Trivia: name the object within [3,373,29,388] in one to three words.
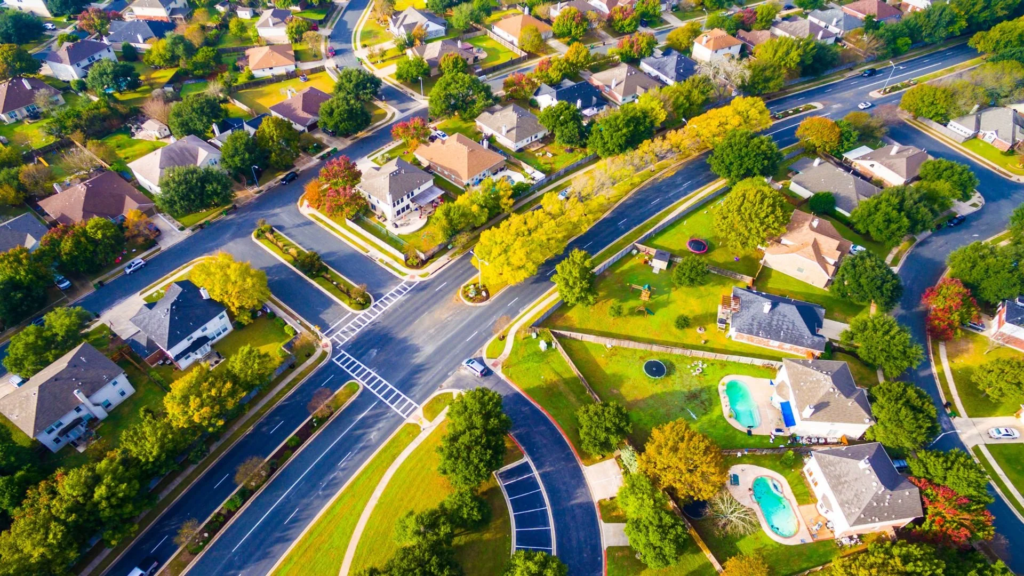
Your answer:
car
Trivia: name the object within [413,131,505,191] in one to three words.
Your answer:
house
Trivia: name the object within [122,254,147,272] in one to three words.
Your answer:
car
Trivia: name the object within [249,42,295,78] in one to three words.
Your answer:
house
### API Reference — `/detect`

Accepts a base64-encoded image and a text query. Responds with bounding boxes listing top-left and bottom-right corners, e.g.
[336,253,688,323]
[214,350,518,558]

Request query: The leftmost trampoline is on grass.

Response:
[643,358,666,378]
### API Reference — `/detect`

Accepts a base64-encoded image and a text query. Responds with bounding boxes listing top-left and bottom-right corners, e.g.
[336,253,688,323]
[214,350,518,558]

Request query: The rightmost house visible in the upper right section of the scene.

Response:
[948,106,1024,154]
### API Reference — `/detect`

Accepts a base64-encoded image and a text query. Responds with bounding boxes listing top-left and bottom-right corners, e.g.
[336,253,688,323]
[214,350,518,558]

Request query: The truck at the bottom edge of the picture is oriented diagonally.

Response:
[124,550,158,576]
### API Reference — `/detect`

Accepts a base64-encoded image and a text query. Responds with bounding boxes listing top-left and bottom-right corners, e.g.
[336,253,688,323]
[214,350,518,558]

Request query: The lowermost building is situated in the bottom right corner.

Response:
[805,442,924,539]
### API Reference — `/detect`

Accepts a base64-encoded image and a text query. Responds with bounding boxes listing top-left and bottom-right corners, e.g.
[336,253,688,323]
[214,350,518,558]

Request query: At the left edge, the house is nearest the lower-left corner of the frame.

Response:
[0,344,133,456]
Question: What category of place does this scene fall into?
residential area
